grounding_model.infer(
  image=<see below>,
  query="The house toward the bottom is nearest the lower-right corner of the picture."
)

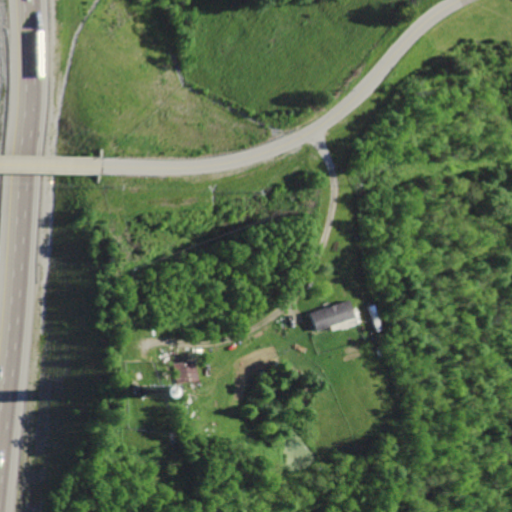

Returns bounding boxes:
[310,302,364,332]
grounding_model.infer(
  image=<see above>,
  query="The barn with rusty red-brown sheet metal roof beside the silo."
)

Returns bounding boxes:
[175,364,200,384]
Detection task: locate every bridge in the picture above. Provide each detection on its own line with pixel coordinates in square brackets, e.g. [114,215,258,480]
[0,149,102,183]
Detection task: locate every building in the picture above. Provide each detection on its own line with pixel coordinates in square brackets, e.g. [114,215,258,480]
[175,364,200,384]
[310,302,364,332]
